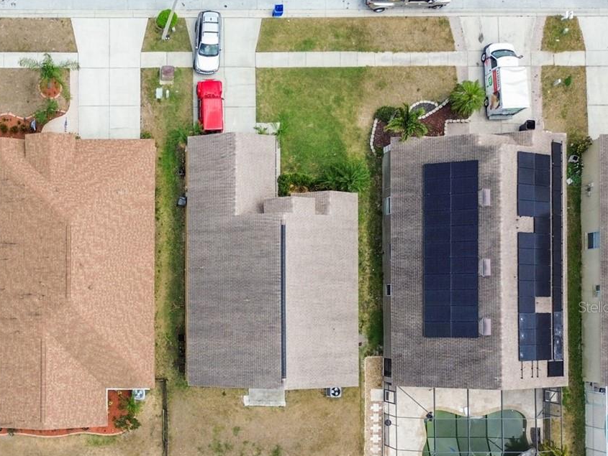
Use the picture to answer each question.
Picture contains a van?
Yes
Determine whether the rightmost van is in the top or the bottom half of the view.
top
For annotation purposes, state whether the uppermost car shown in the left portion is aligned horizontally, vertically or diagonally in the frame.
vertically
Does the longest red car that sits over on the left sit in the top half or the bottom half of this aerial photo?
top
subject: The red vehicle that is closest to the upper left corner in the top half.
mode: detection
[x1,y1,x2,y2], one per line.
[197,77,225,134]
